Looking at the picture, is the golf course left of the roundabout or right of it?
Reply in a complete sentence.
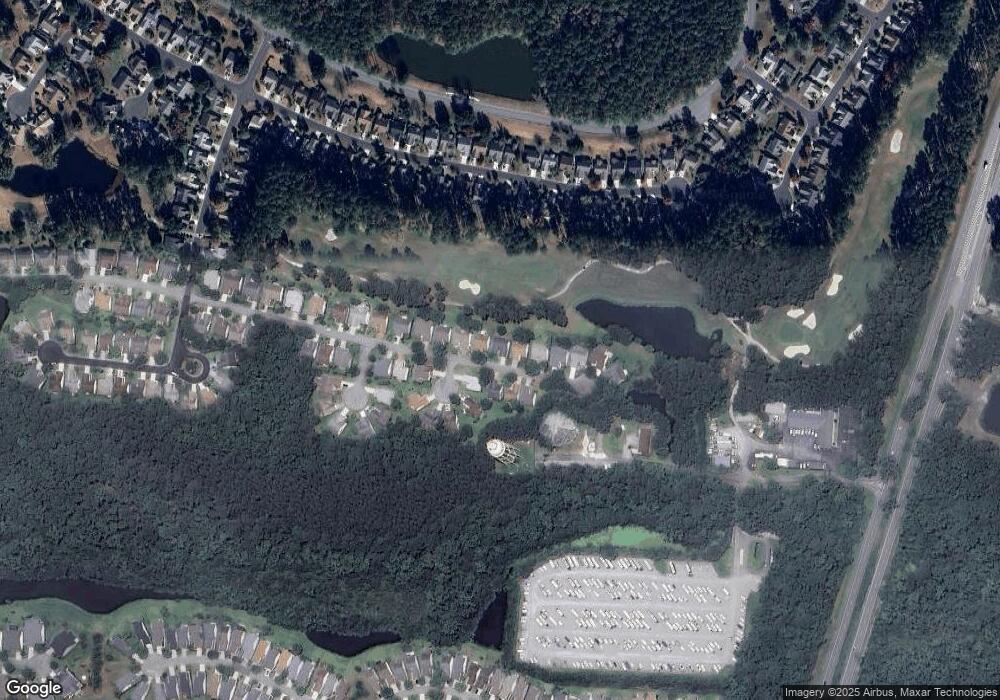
Relative to the roundabout, the golf course lies to the right.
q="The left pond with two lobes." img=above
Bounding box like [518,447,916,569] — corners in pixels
[4,138,118,198]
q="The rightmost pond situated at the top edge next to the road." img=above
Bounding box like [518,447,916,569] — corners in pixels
[379,34,537,99]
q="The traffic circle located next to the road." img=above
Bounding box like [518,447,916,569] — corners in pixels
[176,353,210,385]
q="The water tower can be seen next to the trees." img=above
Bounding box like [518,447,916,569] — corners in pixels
[487,438,521,467]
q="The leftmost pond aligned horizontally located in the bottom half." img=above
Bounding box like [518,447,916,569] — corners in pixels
[0,579,194,614]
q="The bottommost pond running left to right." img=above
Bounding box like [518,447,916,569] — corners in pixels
[307,629,402,656]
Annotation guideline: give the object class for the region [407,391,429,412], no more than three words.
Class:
house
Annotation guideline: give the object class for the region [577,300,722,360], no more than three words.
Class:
pond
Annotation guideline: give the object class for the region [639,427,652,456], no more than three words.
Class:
building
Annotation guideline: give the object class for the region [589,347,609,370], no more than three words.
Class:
house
